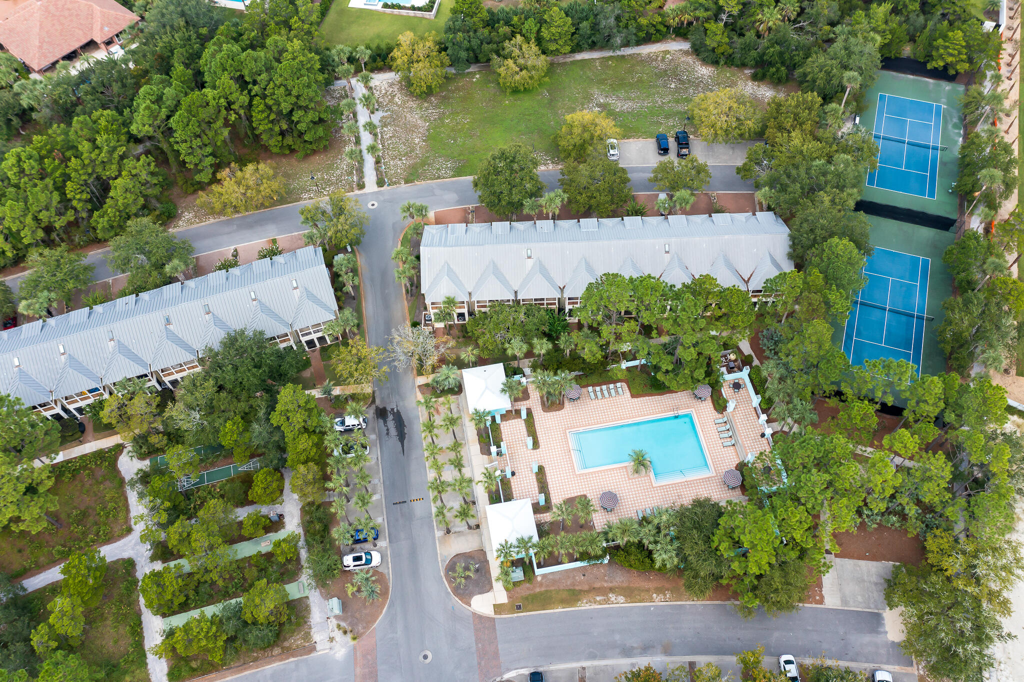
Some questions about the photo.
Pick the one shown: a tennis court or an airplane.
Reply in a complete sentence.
The image shows a tennis court.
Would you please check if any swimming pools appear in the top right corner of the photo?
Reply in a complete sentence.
No, there is no swimming pool in the top right corner of the photo.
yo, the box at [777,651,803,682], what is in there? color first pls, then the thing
white car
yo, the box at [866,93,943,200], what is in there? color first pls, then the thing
blue tennis court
